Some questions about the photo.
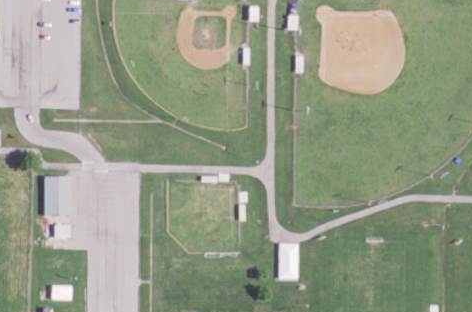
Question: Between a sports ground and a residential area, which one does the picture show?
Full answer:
It's a sports ground.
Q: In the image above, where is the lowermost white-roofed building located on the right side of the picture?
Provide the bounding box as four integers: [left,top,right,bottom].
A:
[276,242,299,282]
